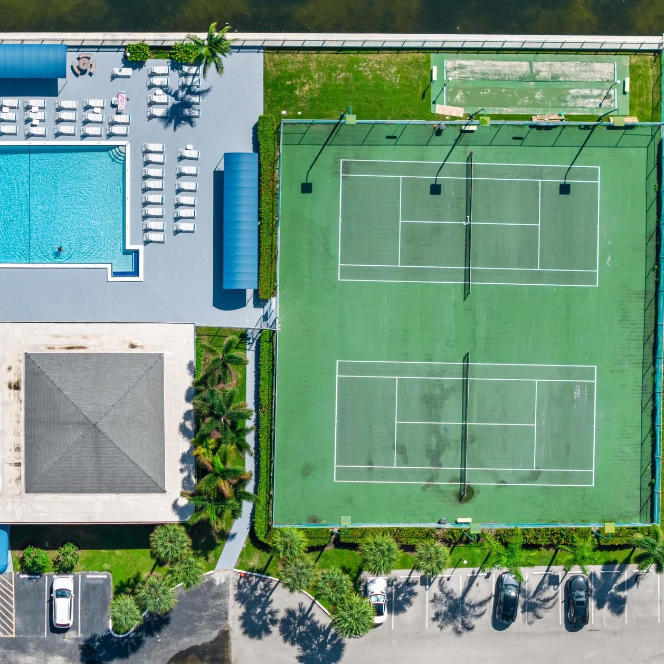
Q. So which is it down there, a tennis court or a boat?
tennis court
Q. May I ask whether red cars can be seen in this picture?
No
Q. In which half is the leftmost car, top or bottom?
bottom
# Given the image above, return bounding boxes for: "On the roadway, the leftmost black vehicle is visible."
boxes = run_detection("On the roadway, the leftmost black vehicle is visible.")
[496,571,520,624]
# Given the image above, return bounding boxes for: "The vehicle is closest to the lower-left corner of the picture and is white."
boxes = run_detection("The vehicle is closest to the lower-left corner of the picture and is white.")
[50,574,75,628]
